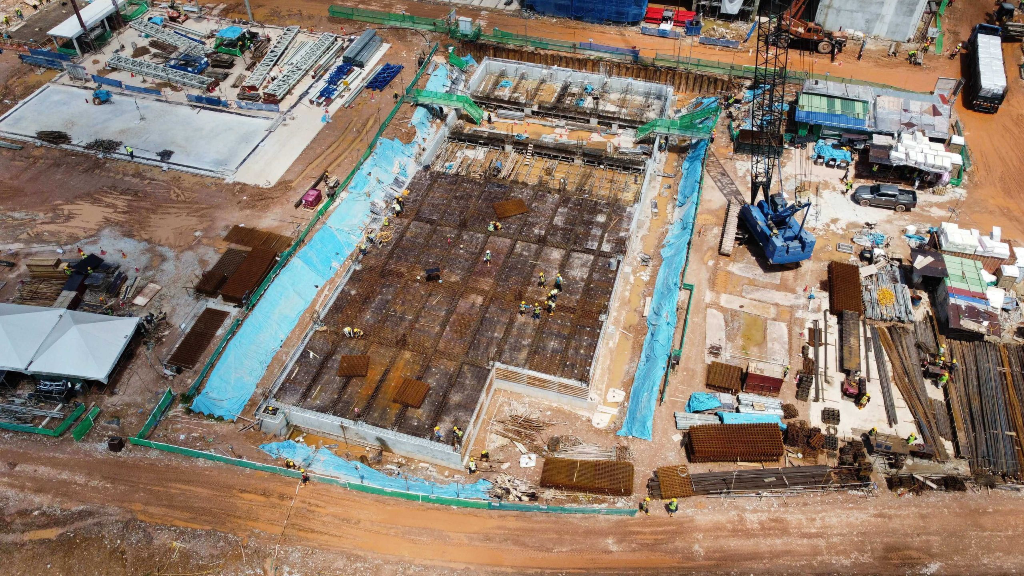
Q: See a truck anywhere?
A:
Yes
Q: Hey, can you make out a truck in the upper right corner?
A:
Yes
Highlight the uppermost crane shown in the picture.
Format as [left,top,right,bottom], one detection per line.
[764,0,855,58]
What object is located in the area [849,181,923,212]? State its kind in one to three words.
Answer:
truck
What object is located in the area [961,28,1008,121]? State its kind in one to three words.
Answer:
truck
